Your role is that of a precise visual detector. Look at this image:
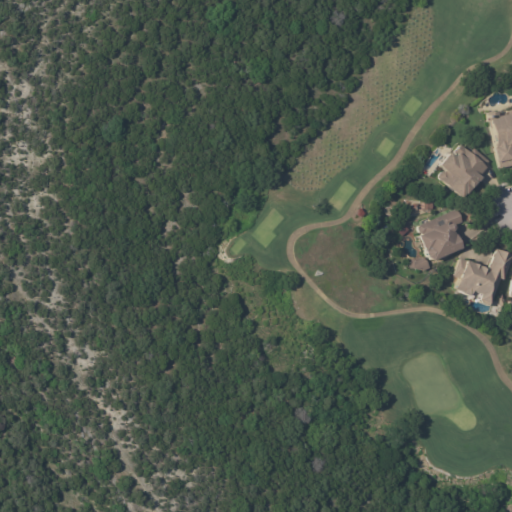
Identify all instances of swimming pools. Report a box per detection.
[426,149,440,169]
[488,92,512,106]
[472,302,491,312]
[404,239,418,258]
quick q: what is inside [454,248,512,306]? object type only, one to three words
house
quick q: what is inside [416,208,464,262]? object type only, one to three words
house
